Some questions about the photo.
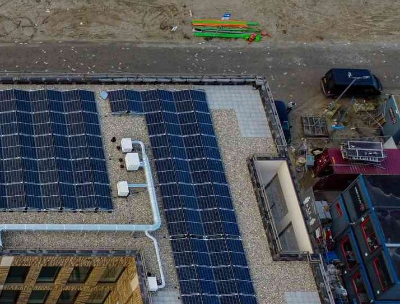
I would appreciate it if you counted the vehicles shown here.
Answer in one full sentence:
The number of vehicles here is 2.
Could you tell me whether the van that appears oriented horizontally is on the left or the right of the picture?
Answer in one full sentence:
The van that appears oriented horizontally appears in the right half of the scene.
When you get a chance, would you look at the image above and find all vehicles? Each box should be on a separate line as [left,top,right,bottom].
[268,96,290,143]
[319,64,384,96]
